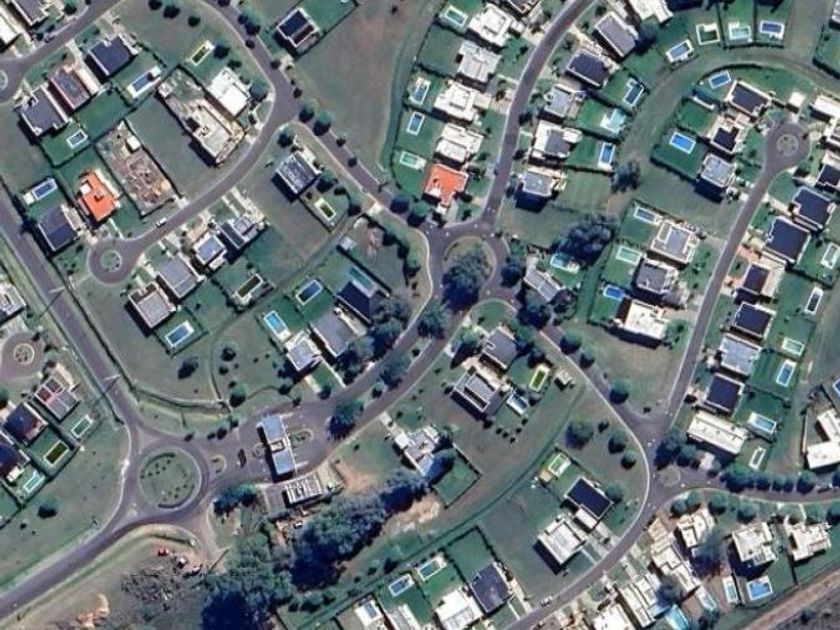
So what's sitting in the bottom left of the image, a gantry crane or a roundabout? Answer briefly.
roundabout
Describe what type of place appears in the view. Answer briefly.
residential area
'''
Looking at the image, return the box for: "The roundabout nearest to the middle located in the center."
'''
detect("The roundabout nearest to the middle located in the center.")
[426,220,514,308]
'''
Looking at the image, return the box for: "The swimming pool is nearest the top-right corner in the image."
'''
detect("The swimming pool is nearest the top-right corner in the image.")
[760,21,784,39]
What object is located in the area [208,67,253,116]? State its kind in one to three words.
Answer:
house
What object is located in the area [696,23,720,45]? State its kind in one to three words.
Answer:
swimming pool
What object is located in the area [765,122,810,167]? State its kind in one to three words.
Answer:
roundabout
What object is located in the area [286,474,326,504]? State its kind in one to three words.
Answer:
building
